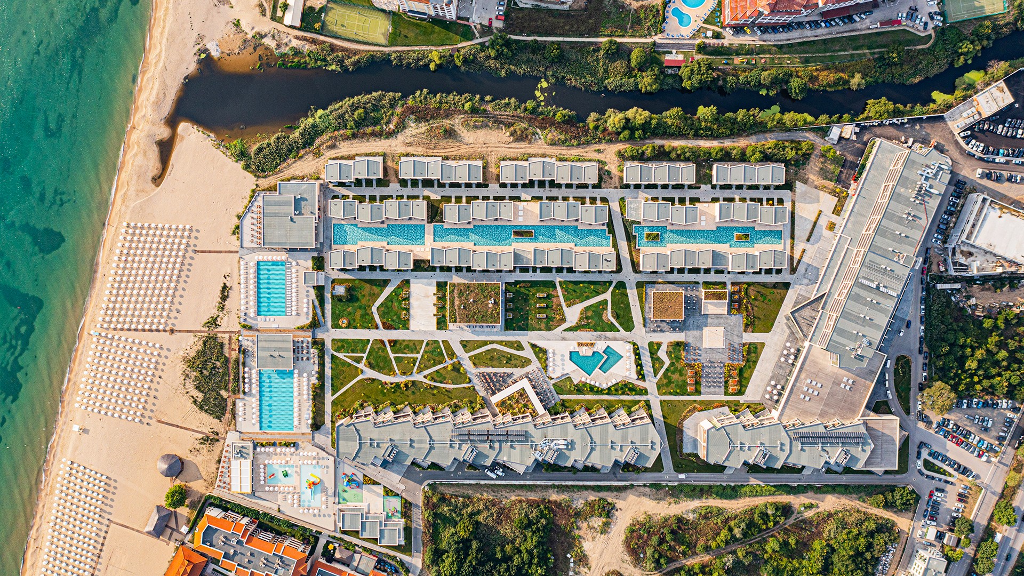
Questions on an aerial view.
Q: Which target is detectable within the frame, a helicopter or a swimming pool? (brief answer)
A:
swimming pool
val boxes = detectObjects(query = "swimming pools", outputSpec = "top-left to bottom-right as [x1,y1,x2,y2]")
[332,223,425,246]
[433,224,611,247]
[670,7,692,28]
[682,0,707,9]
[633,225,783,248]
[569,351,605,376]
[599,345,624,374]
[256,261,286,316]
[266,464,295,485]
[300,464,321,508]
[258,369,294,431]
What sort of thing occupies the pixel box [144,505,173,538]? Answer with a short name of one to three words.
shed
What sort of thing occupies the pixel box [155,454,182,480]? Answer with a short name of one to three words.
gazebo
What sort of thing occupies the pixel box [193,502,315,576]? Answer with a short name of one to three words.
building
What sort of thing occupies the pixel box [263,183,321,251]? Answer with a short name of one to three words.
building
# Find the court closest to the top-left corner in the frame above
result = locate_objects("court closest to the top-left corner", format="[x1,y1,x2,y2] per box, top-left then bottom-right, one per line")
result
[319,0,392,45]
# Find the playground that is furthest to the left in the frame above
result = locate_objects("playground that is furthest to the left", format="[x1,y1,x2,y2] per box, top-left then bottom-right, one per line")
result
[339,460,363,503]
